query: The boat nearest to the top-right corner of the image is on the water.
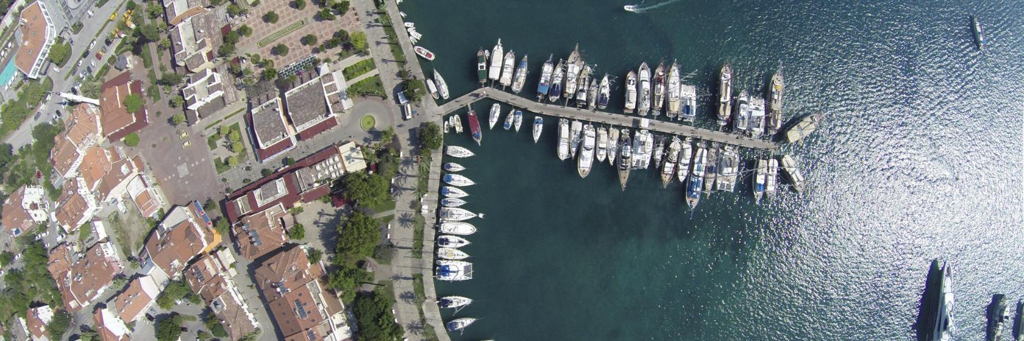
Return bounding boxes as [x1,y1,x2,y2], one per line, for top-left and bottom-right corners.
[970,14,988,53]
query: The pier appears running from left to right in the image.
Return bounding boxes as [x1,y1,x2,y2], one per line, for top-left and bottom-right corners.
[437,87,778,151]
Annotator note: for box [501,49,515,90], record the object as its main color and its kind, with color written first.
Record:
white boat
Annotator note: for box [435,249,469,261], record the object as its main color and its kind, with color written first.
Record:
white boat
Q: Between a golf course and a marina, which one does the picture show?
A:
marina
